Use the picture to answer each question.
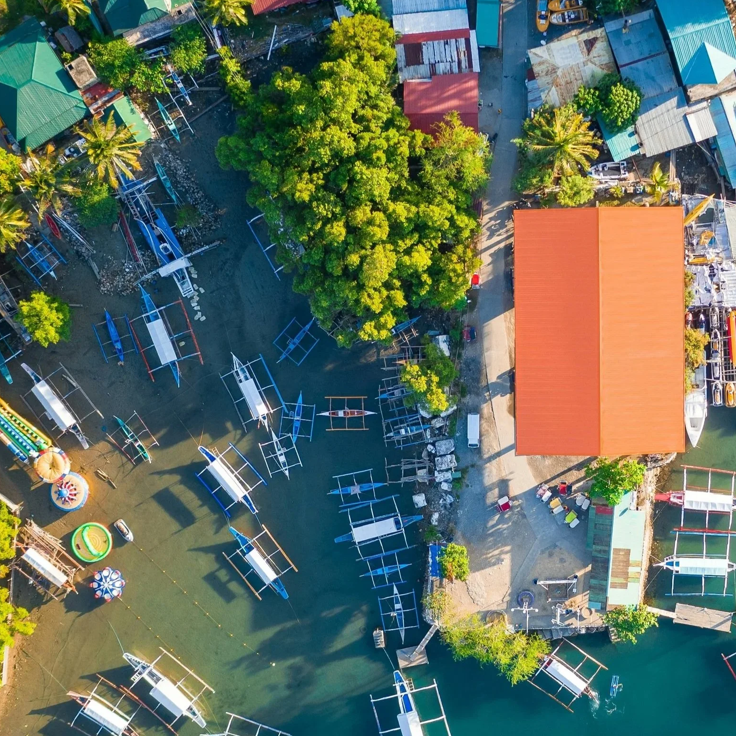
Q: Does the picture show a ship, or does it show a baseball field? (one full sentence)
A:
It is a ship that can be seen here.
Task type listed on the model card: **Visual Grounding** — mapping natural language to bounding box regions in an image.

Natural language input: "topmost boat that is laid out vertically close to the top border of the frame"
[536,0,550,33]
